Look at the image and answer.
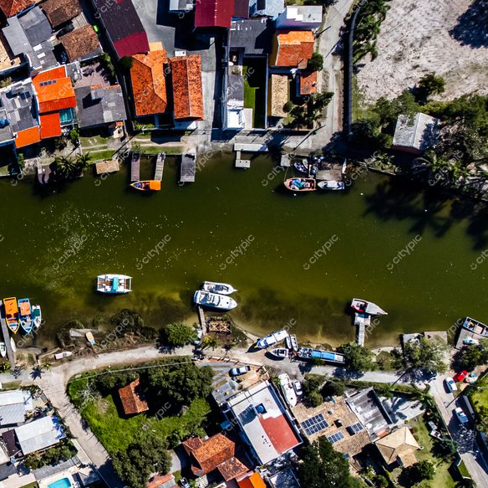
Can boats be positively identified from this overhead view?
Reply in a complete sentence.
Yes, a boat appears in the view.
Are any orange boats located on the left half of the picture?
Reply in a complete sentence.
Yes, you'll find an orange boat on the left half of the picture.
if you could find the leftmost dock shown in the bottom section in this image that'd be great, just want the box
[0,300,16,368]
